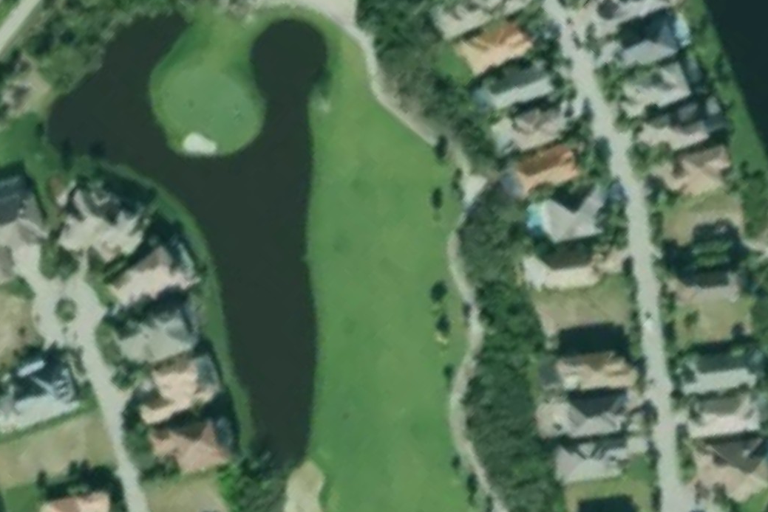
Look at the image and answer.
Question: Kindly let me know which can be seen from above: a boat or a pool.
pool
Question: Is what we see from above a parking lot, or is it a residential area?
residential area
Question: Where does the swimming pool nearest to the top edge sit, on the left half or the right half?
right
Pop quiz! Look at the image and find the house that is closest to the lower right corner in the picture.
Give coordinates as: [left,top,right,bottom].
[685,434,768,507]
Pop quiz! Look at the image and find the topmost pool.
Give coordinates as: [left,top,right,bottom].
[673,13,695,47]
